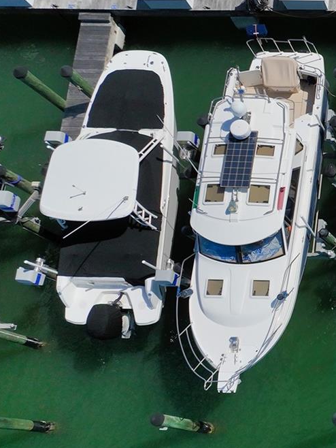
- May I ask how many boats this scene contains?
2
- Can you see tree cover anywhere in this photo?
No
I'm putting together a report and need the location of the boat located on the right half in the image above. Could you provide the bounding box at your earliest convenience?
[177,24,334,393]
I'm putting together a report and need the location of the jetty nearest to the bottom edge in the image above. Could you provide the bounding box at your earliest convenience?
[64,10,127,140]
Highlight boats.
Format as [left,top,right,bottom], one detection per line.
[177,24,334,393]
[40,50,202,341]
